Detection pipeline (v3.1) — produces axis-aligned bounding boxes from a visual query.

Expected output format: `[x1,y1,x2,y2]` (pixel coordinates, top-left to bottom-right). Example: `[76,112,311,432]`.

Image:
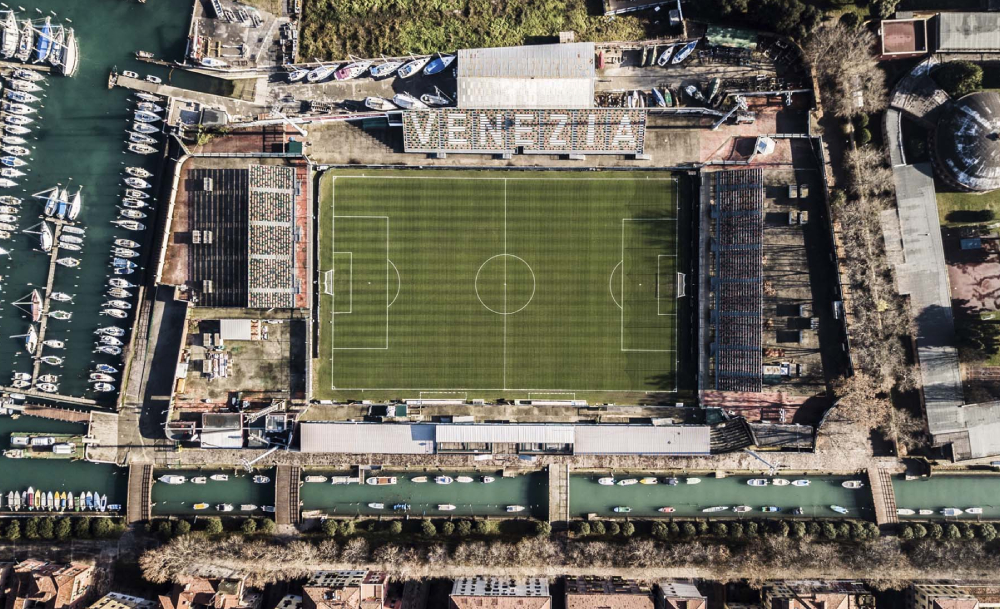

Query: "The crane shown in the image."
[184,8,202,61]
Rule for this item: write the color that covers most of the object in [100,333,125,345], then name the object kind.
white boat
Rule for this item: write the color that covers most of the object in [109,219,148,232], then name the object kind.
white boat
